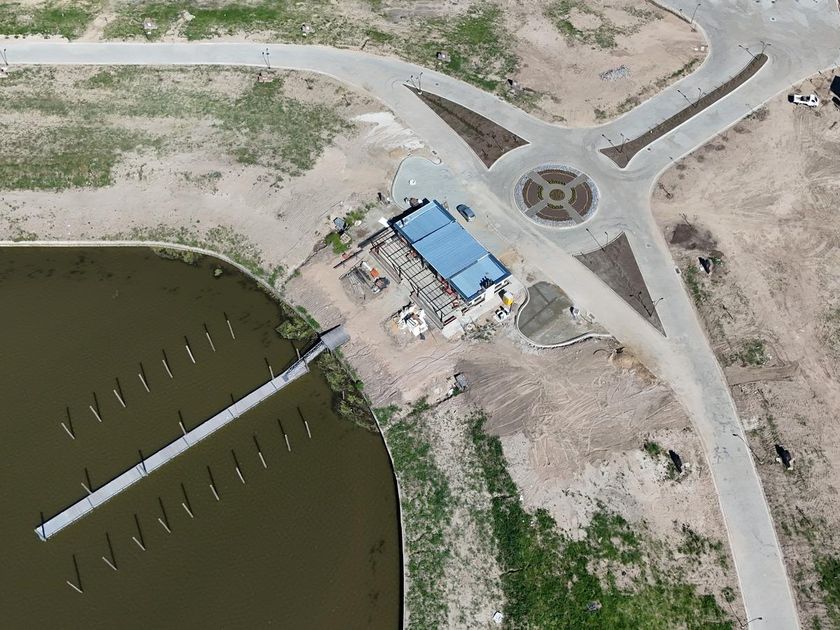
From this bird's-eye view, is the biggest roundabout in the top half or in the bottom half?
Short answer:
top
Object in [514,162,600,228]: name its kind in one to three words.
roundabout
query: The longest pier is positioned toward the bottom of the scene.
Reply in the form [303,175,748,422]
[38,368,308,540]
